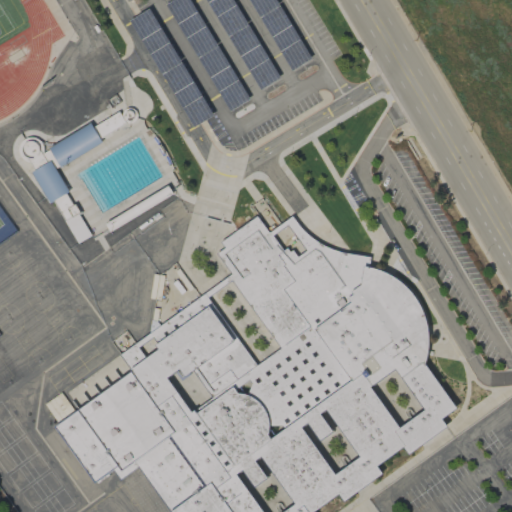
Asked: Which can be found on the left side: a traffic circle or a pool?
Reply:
pool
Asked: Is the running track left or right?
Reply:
left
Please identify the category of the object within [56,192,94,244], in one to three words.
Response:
building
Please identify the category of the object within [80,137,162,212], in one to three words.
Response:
swimming pool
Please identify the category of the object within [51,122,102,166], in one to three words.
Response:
building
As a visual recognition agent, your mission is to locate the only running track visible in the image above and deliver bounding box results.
[0,0,64,120]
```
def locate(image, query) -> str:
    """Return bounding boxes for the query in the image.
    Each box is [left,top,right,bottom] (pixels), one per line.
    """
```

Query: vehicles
[94,25,101,34]
[384,176,391,186]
